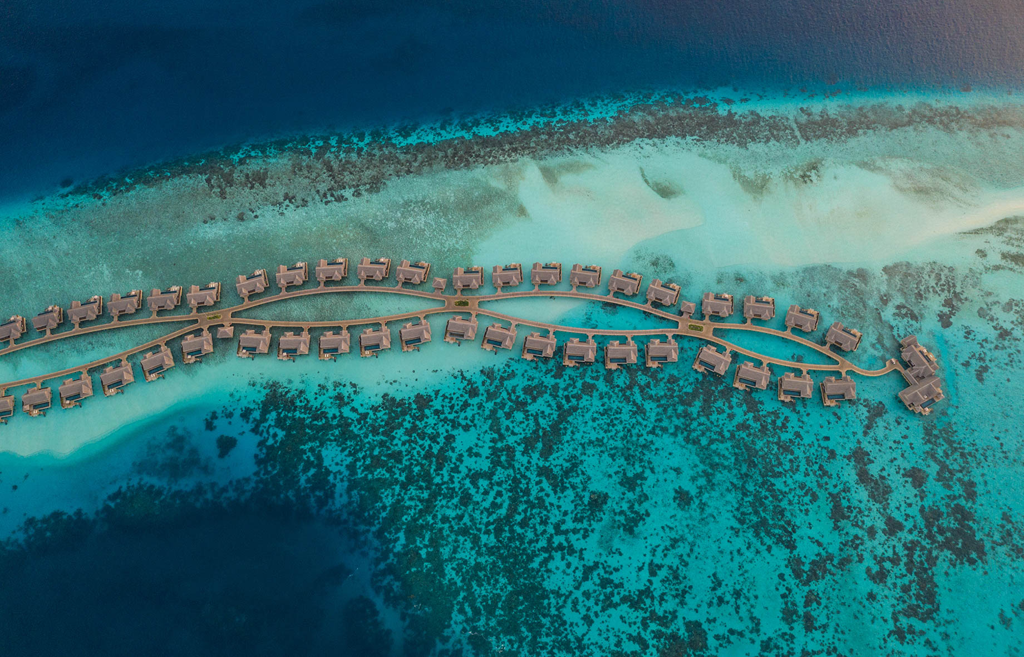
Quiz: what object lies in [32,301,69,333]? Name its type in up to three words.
house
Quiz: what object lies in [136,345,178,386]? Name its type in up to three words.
house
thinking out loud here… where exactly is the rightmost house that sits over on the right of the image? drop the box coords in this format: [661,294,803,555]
[889,335,949,419]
